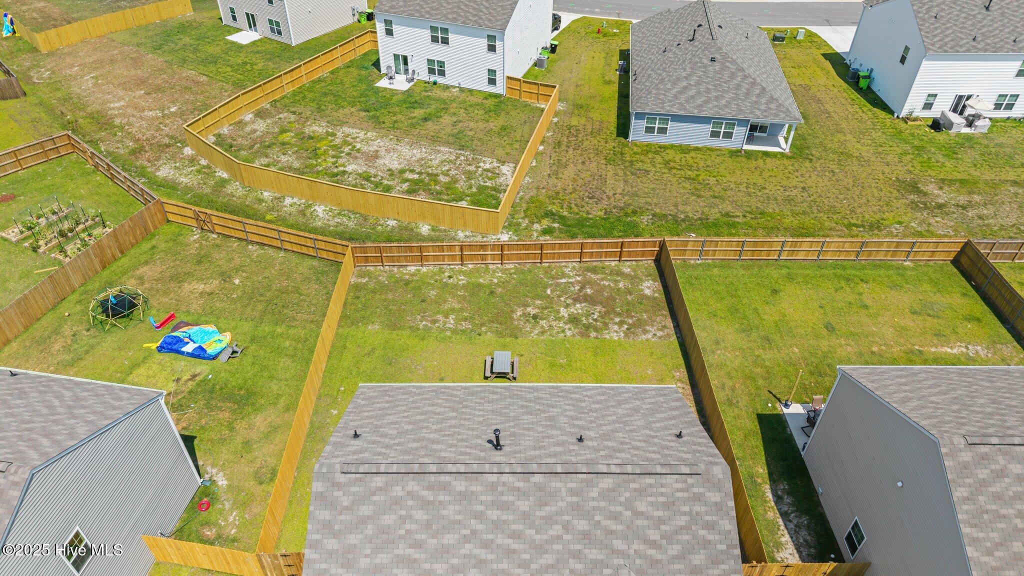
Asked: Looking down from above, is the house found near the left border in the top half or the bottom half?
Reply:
bottom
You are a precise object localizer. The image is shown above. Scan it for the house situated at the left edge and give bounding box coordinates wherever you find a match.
[0,364,203,576]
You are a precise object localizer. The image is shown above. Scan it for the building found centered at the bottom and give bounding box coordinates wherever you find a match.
[297,382,741,576]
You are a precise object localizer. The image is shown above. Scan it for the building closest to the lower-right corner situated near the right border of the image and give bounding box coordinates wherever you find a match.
[802,365,1024,576]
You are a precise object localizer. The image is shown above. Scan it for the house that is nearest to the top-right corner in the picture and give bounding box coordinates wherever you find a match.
[845,0,1024,118]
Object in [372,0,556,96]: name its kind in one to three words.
house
